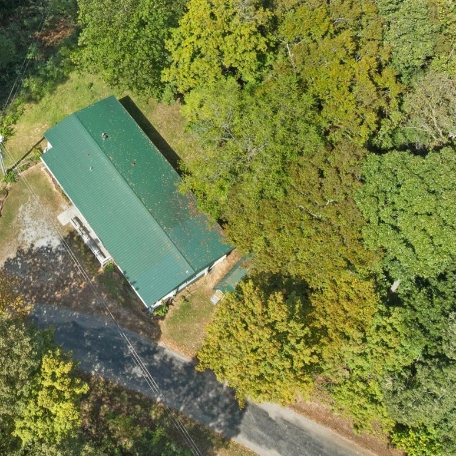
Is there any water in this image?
No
